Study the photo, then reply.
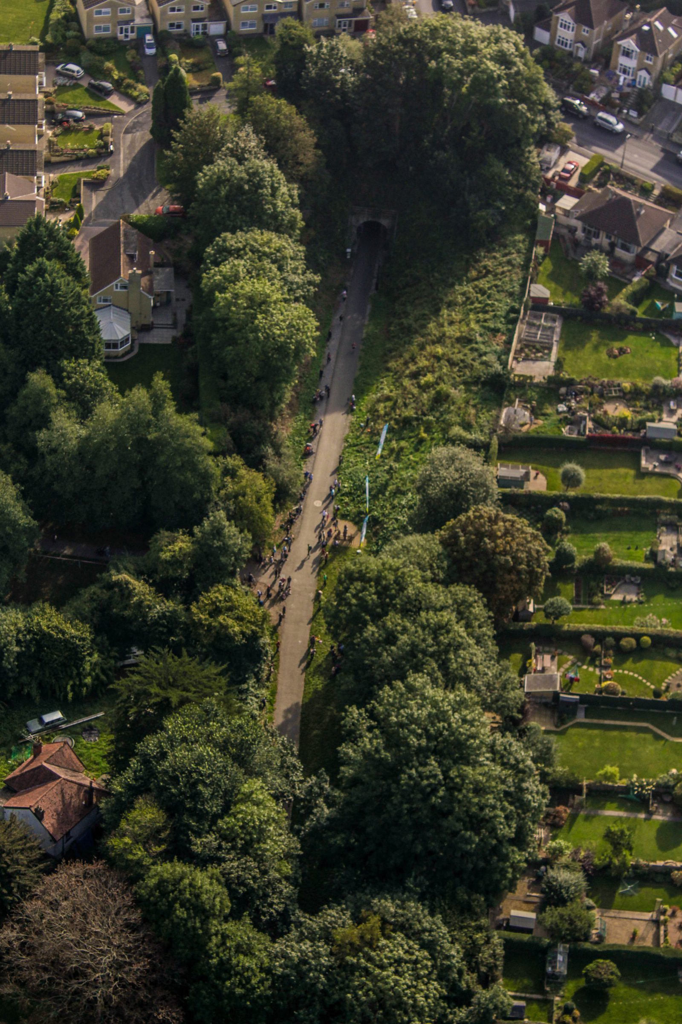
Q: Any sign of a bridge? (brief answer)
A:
No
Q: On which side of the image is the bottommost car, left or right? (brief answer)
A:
left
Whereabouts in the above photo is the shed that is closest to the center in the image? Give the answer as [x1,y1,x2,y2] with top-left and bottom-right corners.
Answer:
[497,465,531,491]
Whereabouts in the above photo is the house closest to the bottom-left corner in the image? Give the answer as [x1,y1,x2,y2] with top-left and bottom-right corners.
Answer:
[3,727,107,872]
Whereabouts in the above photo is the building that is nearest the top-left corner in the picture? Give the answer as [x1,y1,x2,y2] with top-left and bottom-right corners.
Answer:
[0,45,46,97]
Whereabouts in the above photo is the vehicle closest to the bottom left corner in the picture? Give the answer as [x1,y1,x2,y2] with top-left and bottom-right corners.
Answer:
[26,704,68,728]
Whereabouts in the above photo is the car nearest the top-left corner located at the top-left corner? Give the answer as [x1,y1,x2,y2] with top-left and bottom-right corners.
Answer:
[55,62,84,77]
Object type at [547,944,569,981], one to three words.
greenhouse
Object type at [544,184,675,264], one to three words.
house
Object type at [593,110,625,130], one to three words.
car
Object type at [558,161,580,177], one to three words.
car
